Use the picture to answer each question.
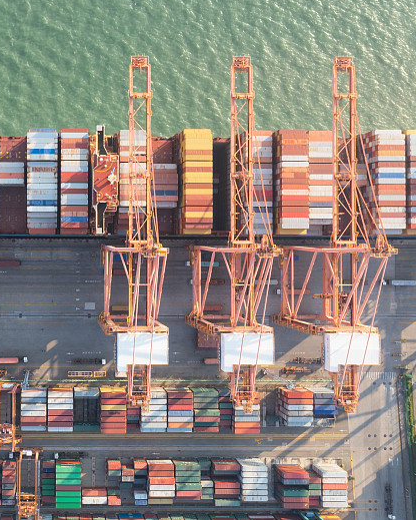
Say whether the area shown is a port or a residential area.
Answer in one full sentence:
This image shows a port.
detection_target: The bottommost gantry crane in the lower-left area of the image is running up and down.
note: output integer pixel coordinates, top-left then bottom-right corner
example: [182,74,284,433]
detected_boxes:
[16,448,45,520]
